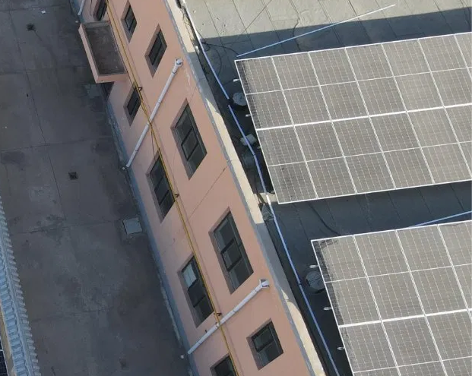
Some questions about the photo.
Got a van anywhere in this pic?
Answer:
No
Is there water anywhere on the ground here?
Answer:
No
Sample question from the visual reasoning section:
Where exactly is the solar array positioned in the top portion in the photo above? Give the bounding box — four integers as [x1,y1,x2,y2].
[228,31,472,205]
